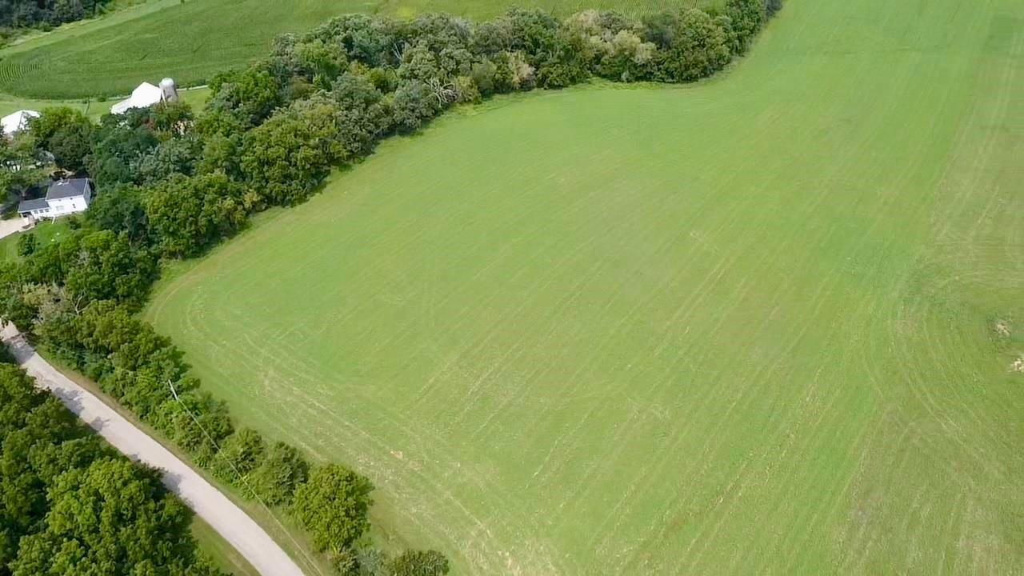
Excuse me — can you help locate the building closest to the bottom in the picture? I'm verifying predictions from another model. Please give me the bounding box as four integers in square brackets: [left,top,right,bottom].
[16,181,89,222]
